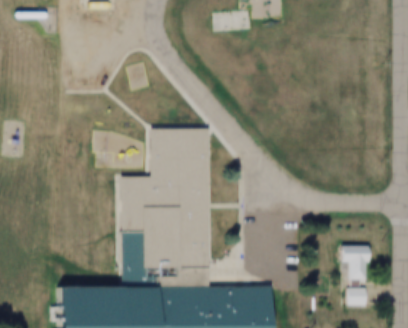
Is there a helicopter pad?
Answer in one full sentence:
No, the photo shows no helicopter pad.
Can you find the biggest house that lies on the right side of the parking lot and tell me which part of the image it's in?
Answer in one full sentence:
You can find the biggest house that lies on the right side of the parking lot in the bottom right area of the picture.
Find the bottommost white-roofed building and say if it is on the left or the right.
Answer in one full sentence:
The bottommost white-roofed building is on the right side of the image.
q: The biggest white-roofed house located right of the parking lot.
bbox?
[338,245,372,286]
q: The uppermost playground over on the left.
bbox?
[126,62,149,91]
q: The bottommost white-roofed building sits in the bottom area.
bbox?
[344,287,368,308]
